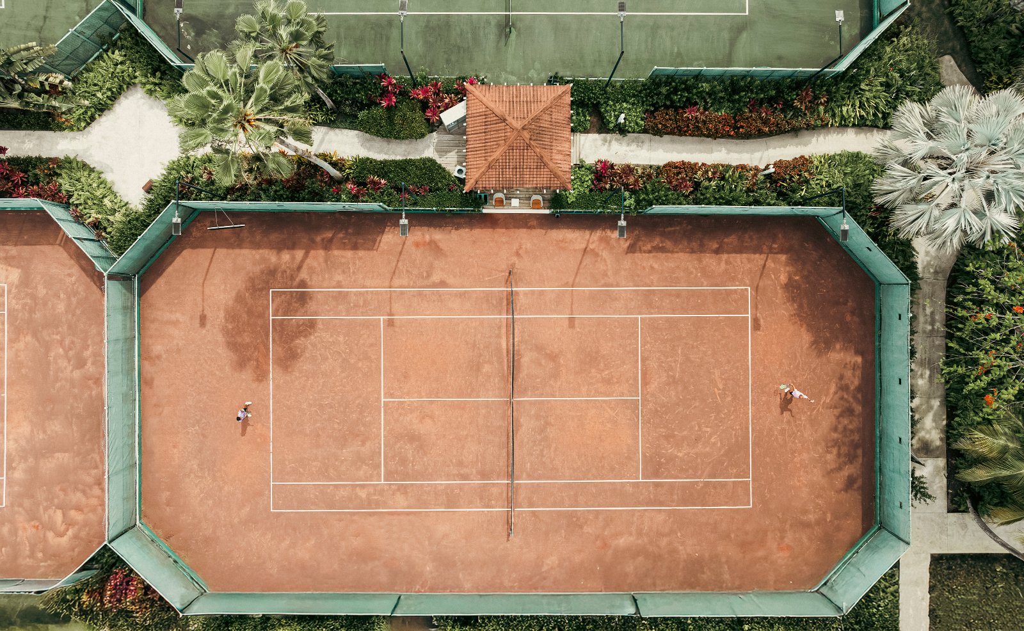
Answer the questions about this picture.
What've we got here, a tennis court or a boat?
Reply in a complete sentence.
The one in the frame is a tennis court.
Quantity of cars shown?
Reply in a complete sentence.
Not a single car can be seen.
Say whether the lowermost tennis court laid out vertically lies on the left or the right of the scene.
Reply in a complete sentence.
The lowermost tennis court laid out vertically is on the left side of the image.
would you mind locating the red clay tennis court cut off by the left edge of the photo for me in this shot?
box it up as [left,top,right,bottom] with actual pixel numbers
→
[0,214,121,579]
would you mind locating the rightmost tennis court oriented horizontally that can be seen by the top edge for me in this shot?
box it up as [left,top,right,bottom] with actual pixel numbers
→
[145,0,873,85]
